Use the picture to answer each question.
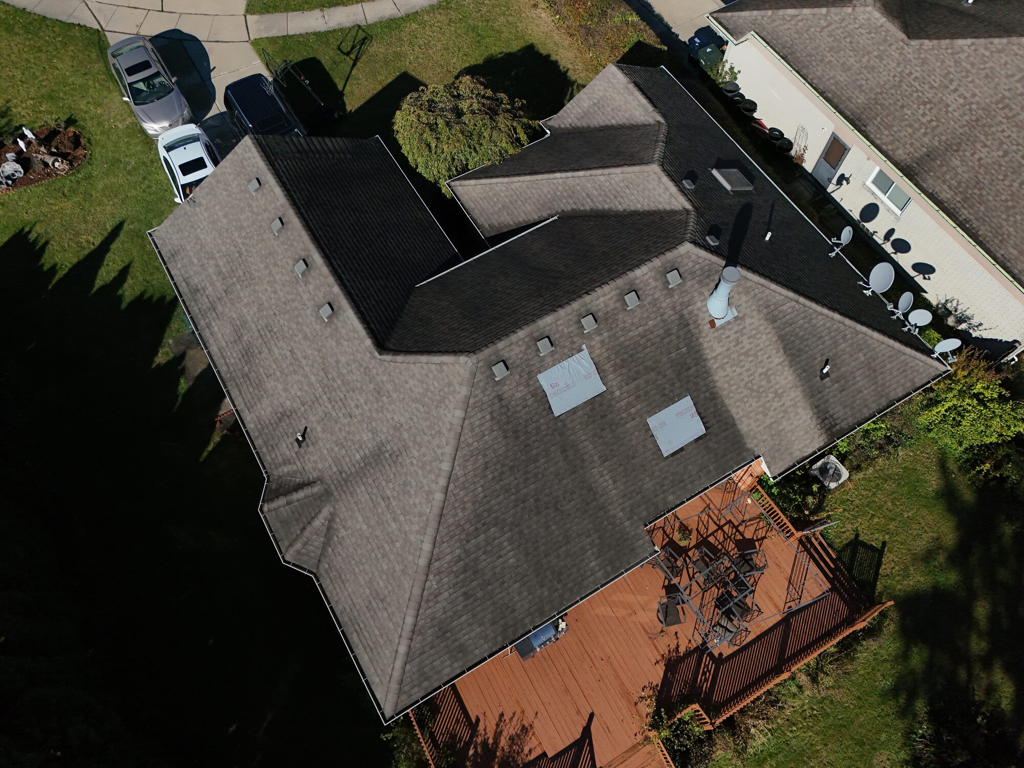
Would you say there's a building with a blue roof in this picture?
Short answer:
No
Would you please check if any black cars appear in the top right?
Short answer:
No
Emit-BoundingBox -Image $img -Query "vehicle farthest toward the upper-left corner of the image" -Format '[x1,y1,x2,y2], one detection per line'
[103,32,191,136]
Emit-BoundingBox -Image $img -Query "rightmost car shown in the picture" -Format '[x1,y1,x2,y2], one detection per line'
[223,65,312,135]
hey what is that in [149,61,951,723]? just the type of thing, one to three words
house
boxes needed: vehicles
[154,119,223,202]
[103,32,191,136]
[223,65,312,135]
